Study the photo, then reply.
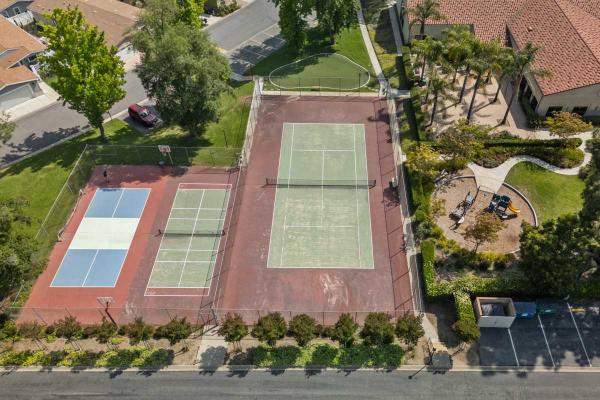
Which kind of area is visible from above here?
sports ground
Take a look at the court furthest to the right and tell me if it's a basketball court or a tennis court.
tennis court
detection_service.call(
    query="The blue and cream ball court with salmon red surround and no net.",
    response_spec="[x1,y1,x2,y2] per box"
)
[19,165,179,322]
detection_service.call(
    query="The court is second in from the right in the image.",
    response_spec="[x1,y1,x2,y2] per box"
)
[122,166,245,322]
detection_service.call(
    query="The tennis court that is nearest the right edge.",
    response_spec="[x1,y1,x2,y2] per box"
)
[219,94,417,327]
